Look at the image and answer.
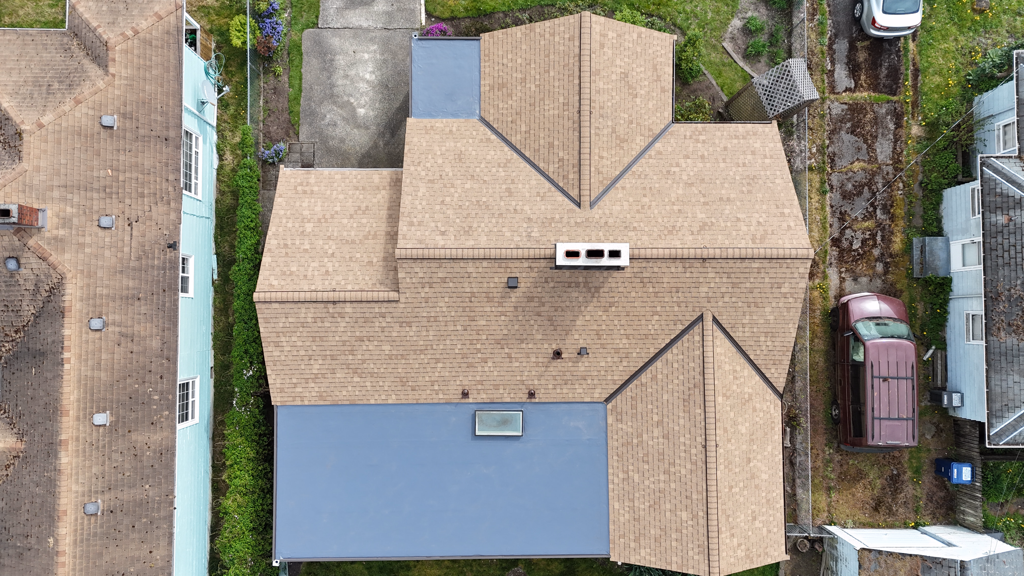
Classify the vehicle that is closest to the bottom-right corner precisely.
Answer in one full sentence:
The vehicle that is closest to the bottom-right corner in the image is a car.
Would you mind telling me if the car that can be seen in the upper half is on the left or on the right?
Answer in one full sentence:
It is on the right.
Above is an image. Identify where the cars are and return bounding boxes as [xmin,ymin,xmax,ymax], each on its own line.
[853,0,927,40]
[830,292,920,454]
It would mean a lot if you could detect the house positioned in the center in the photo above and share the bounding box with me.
[250,9,817,576]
